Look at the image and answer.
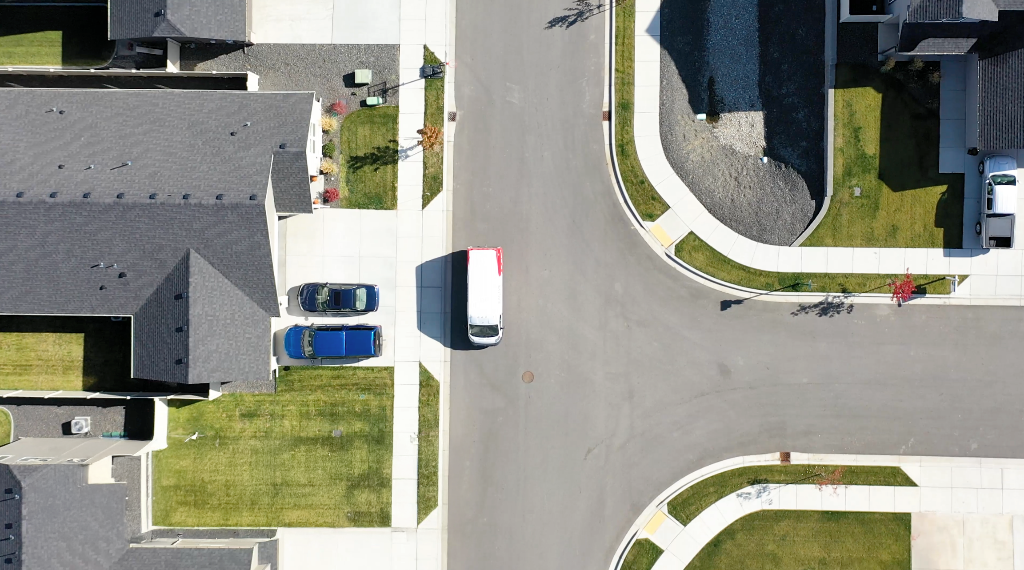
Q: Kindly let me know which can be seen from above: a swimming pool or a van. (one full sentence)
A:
It is a van that can be seen here.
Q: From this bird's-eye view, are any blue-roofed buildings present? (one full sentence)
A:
No, the frame has no blue-roofed building in it.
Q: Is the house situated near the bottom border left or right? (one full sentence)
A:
You can find the house situated near the bottom border on the left side of the picture.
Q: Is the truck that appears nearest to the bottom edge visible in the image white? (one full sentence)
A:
No, the truck that appears nearest to the bottom edge is actually blue.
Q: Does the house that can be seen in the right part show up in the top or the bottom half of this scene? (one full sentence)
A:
You can find the house that can be seen in the right part in the top half.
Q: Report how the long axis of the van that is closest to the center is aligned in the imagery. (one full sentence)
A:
Seen from above, the van that is closest to the center lies from top to bottom.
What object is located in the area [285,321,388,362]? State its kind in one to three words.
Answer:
truck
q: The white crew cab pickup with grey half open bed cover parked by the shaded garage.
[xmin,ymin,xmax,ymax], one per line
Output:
[974,152,1024,251]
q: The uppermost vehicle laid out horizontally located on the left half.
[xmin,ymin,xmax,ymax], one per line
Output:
[296,281,380,316]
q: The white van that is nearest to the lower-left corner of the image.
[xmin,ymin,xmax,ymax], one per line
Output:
[465,242,507,347]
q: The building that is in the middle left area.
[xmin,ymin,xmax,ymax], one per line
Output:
[0,85,329,385]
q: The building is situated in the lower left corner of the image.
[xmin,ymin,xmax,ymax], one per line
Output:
[0,446,279,570]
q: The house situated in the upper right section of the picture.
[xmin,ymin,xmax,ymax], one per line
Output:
[870,0,1024,149]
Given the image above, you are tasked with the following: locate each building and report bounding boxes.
[0,0,257,48]
[0,446,279,570]
[870,0,1024,149]
[0,85,329,385]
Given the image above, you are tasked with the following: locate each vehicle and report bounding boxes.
[465,242,507,347]
[974,152,1024,251]
[296,281,380,316]
[285,321,388,362]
